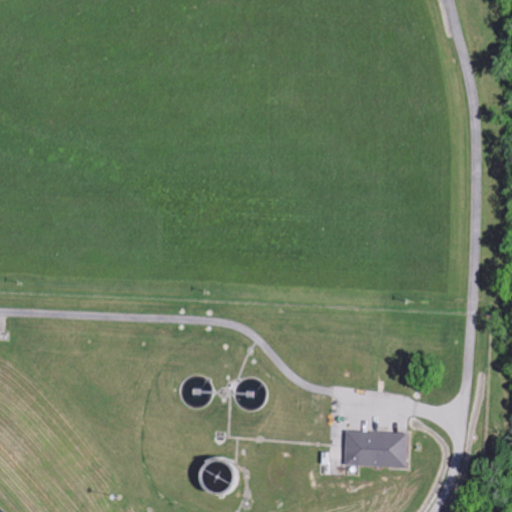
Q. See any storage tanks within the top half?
No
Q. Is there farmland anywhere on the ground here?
Yes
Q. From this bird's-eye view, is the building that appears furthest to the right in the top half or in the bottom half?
bottom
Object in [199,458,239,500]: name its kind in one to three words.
storage tank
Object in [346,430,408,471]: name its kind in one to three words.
building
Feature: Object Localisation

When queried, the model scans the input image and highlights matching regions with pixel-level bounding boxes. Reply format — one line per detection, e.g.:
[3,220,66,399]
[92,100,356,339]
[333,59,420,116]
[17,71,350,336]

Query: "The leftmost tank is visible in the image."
[180,374,214,410]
